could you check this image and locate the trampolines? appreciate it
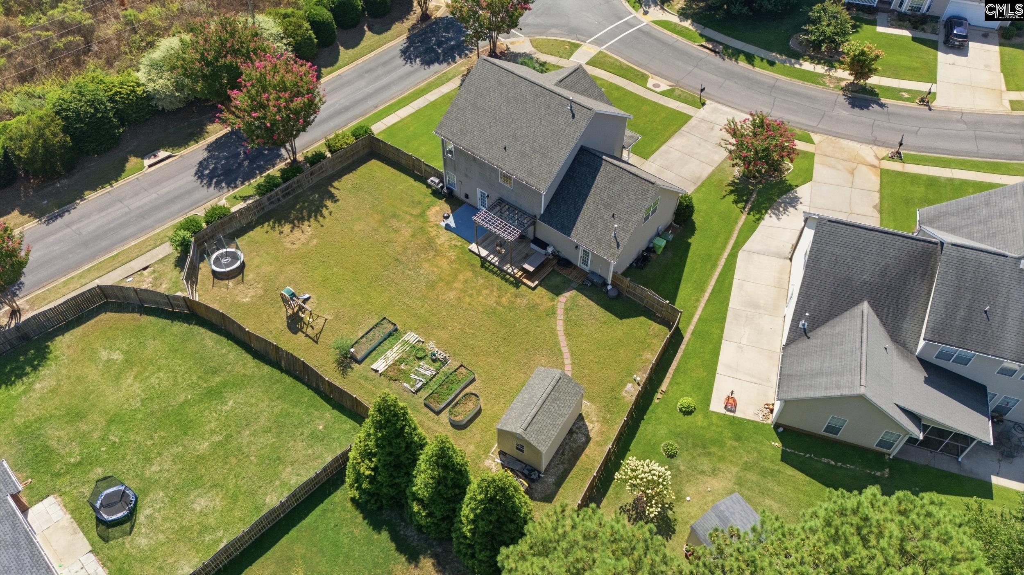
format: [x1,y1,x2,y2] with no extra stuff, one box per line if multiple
[202,232,244,279]
[81,477,138,530]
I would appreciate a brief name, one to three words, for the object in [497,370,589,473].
shed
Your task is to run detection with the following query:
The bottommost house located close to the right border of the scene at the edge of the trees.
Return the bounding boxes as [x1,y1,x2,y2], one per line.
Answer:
[768,165,1024,468]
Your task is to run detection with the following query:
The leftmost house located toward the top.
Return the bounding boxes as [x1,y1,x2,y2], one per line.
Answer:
[433,58,686,287]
